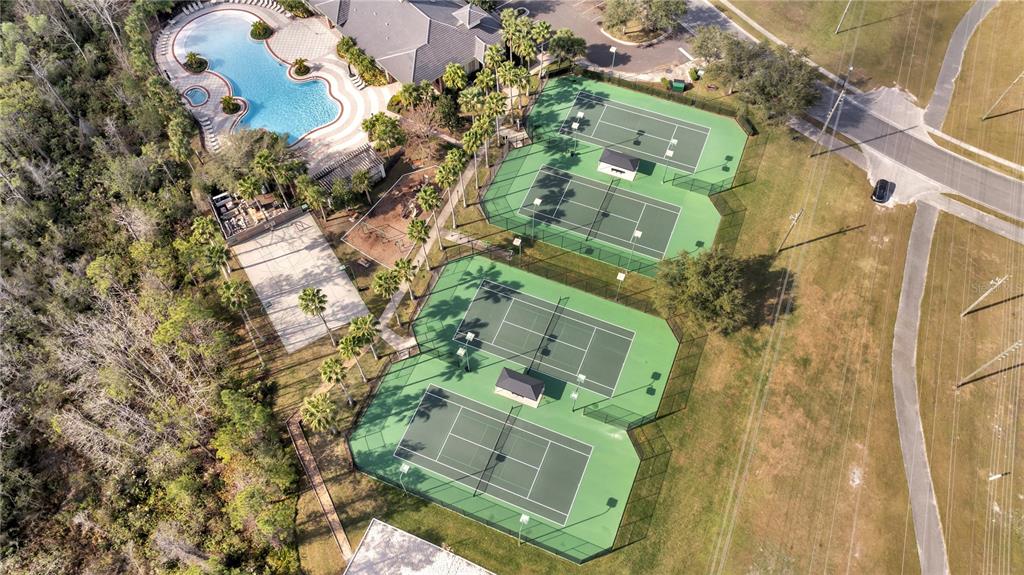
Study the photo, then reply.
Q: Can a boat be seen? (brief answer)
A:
No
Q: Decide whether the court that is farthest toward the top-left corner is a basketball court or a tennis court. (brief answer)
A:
basketball court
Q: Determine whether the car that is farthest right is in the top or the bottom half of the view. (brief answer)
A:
top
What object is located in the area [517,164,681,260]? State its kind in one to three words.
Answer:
tennis court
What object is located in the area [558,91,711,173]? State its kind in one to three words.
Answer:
tennis court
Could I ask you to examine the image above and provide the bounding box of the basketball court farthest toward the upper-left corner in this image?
[232,213,370,353]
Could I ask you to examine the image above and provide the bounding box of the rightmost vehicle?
[871,175,894,202]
